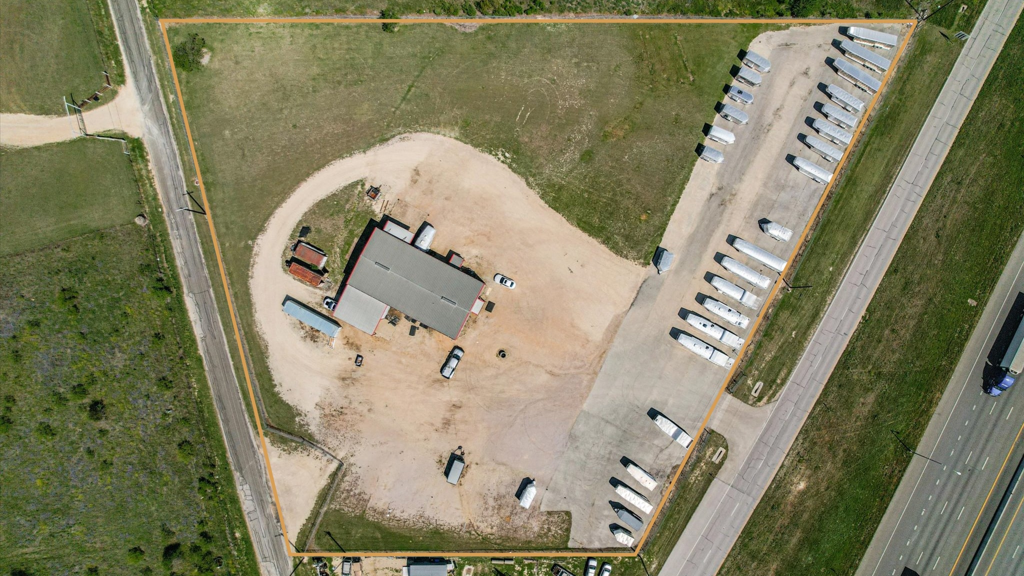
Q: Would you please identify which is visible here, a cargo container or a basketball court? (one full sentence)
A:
Visible in the photo is a cargo container.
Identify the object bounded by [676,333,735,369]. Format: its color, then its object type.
white trailer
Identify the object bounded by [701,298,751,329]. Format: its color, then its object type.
white trailer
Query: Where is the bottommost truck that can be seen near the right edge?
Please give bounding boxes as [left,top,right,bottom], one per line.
[987,321,1024,397]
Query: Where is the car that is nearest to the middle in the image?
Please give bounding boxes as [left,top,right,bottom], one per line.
[493,274,516,288]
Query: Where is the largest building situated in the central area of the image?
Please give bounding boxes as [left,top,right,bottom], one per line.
[332,220,485,340]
